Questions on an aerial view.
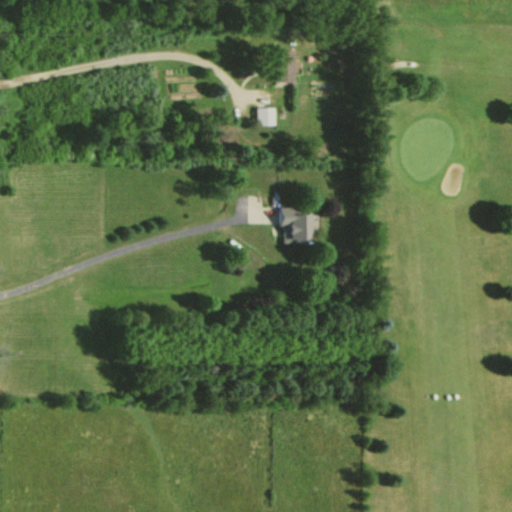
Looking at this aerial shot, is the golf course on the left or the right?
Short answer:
right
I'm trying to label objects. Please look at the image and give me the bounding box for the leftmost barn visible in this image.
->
[258,107,277,126]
